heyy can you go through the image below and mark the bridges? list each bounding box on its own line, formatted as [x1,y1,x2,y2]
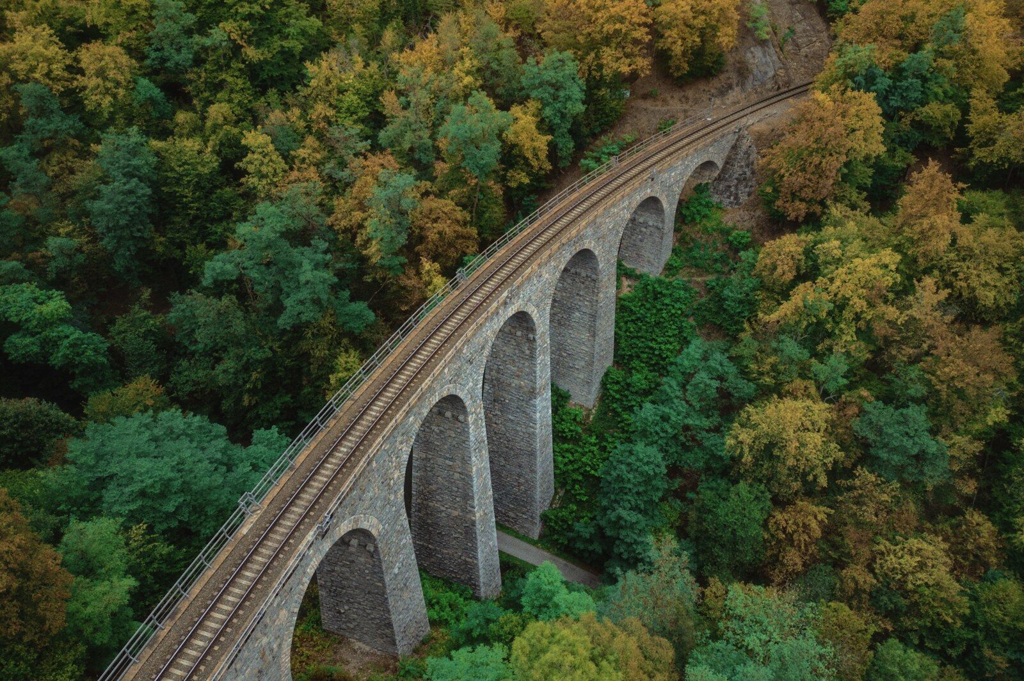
[120,113,750,681]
